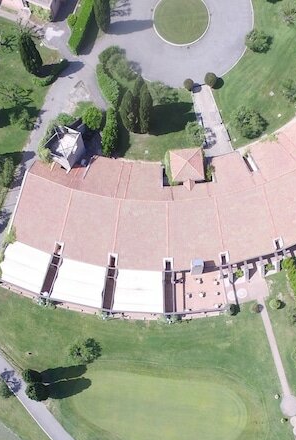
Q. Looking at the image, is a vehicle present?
No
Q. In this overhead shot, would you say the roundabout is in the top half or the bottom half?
top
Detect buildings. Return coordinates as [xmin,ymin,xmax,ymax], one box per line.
[11,125,296,276]
[27,0,64,20]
